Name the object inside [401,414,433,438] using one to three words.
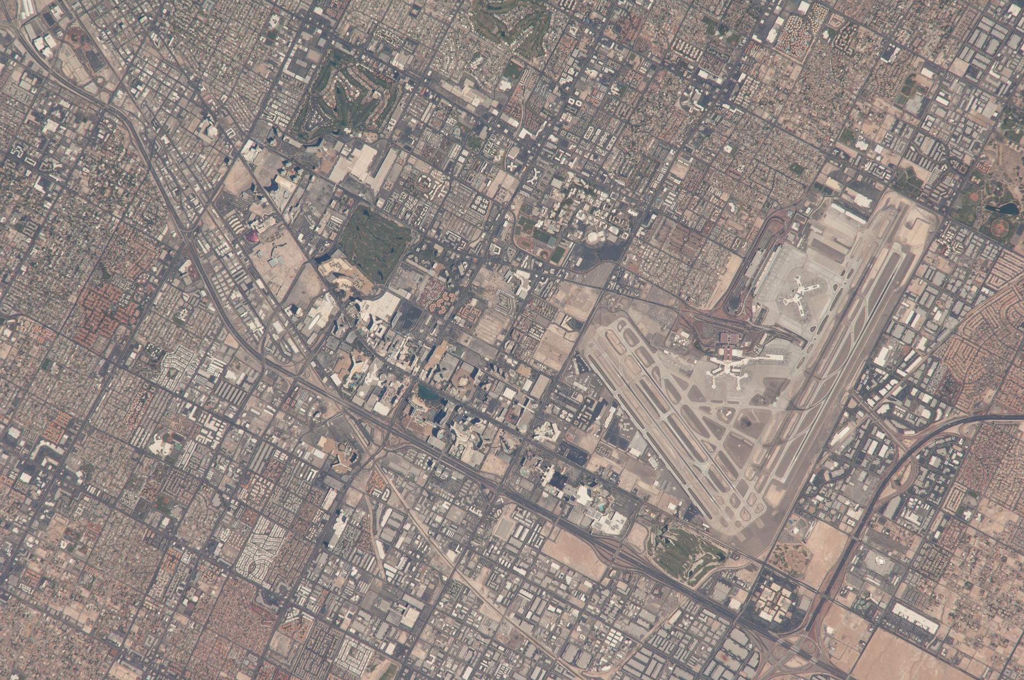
building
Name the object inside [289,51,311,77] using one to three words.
building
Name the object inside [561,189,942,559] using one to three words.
airport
